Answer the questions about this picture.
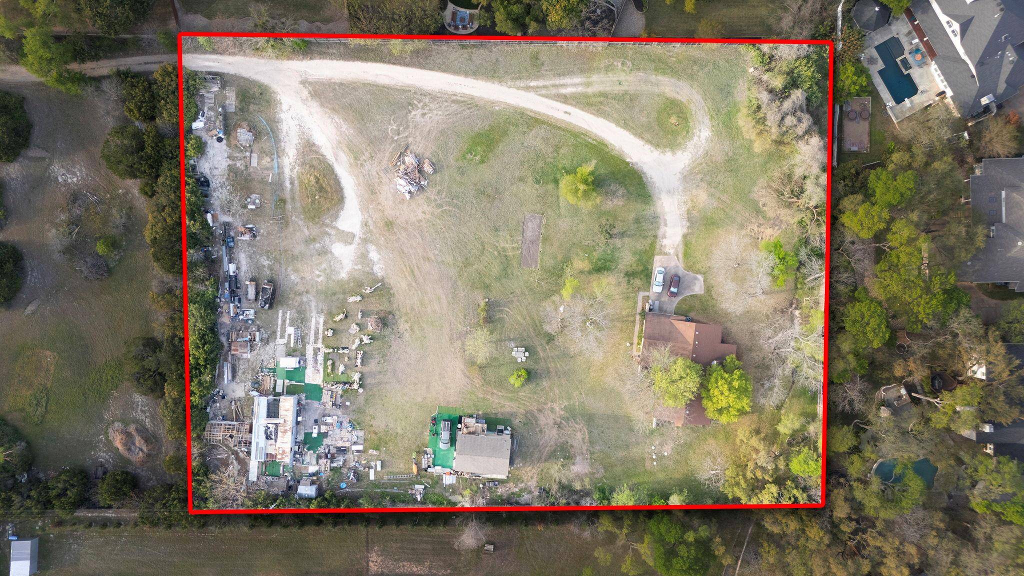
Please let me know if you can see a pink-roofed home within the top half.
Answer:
No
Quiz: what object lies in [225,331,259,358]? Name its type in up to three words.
shed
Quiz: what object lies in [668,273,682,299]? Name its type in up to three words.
car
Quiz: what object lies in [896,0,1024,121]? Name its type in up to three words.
house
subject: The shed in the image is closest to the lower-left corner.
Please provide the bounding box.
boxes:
[11,532,49,576]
